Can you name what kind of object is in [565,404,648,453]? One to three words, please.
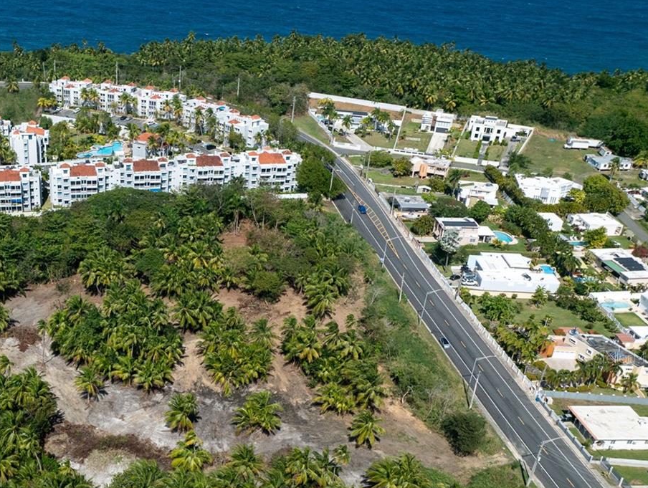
house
